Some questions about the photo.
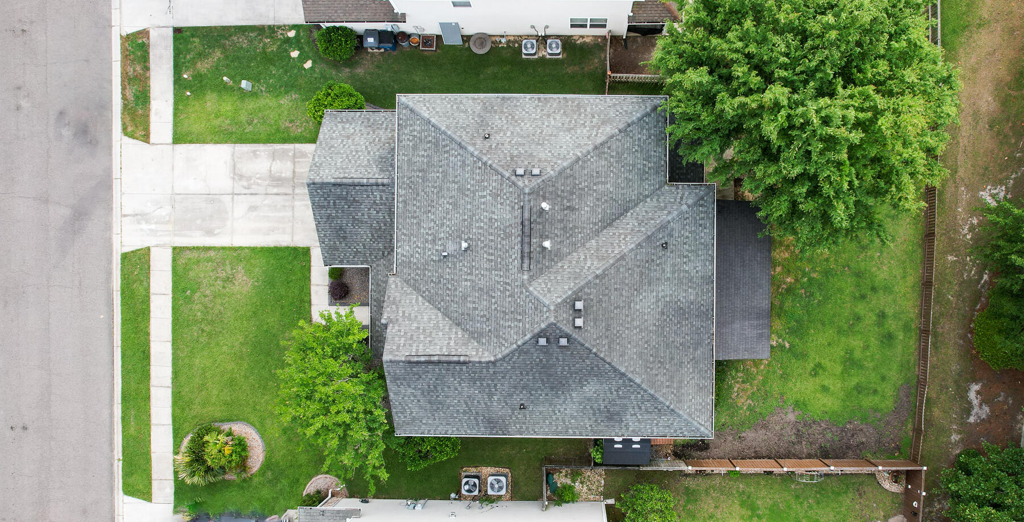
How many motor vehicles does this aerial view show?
none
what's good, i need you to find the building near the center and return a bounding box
[307,94,771,438]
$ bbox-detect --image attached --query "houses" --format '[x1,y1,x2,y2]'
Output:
[298,481,609,522]
[307,94,771,438]
[303,0,678,57]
